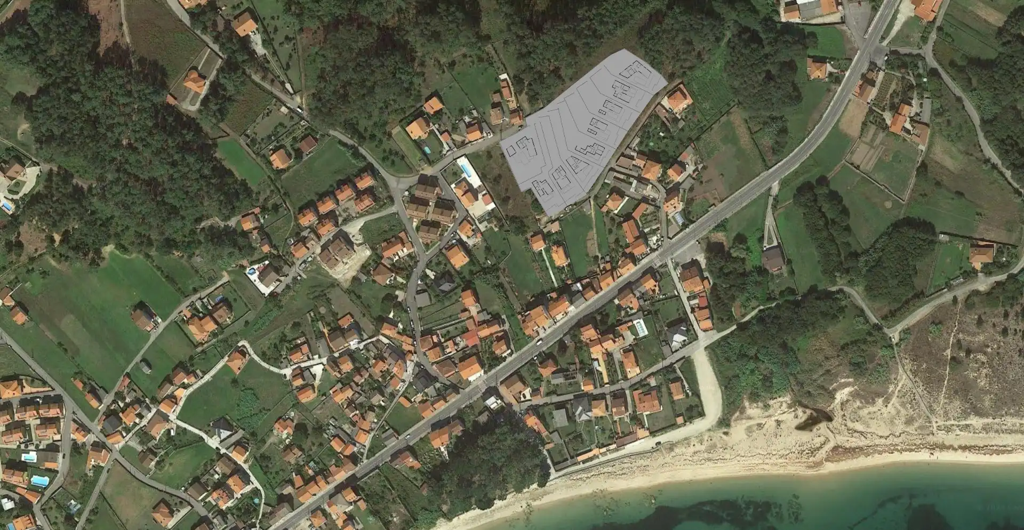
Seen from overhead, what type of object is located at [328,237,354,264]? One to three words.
building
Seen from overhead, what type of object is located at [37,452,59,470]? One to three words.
building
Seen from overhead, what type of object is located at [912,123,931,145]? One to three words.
house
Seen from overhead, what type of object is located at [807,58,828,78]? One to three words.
house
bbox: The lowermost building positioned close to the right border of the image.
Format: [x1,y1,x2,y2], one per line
[969,242,996,279]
